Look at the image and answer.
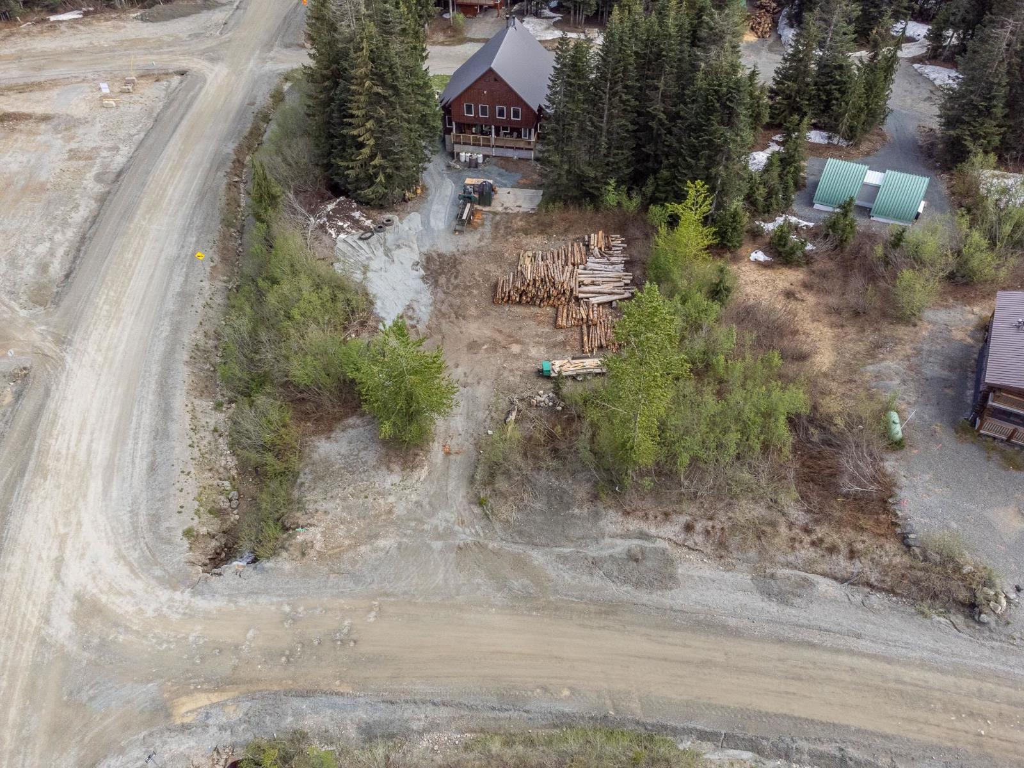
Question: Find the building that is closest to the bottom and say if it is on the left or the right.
right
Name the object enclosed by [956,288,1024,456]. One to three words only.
building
